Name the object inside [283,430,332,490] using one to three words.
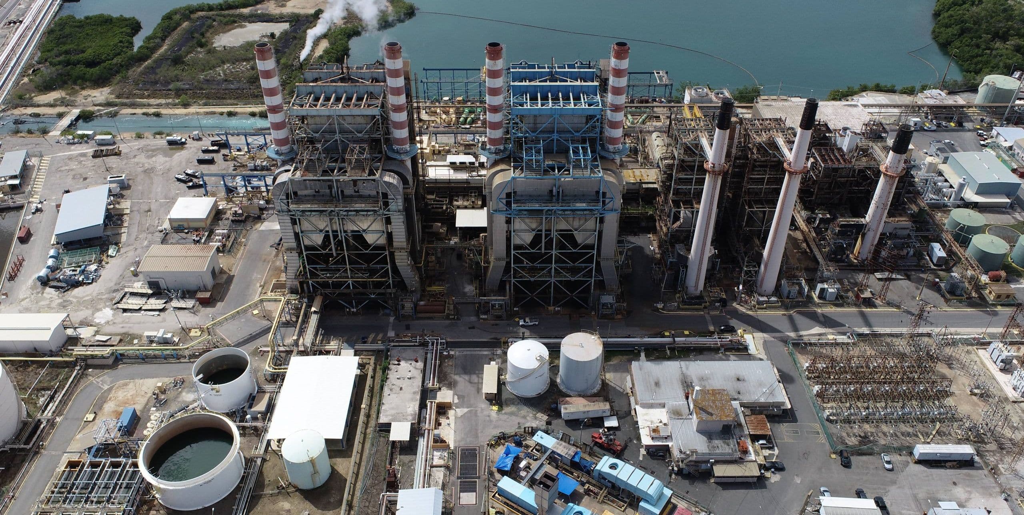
storage tank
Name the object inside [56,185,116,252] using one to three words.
shed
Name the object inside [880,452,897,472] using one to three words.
car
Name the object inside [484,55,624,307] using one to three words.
building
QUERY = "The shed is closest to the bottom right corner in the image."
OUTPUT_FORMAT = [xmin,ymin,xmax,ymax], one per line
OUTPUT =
[985,284,1017,302]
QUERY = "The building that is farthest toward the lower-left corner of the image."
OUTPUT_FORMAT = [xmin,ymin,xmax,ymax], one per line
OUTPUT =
[0,313,86,352]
